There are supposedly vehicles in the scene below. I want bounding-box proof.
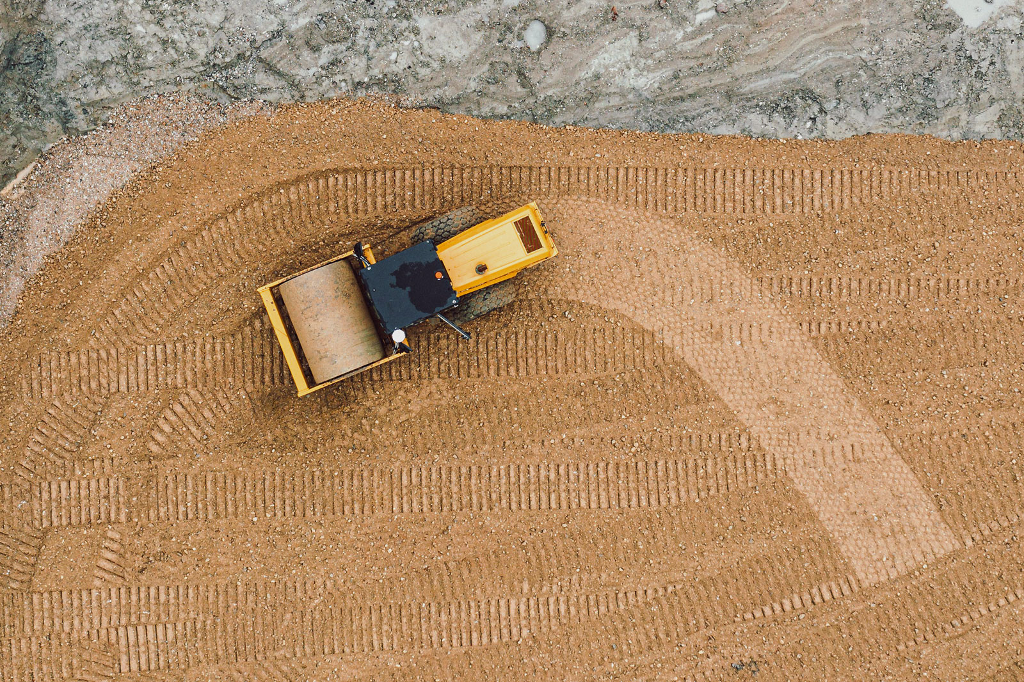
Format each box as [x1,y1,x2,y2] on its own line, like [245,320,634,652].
[258,201,559,396]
